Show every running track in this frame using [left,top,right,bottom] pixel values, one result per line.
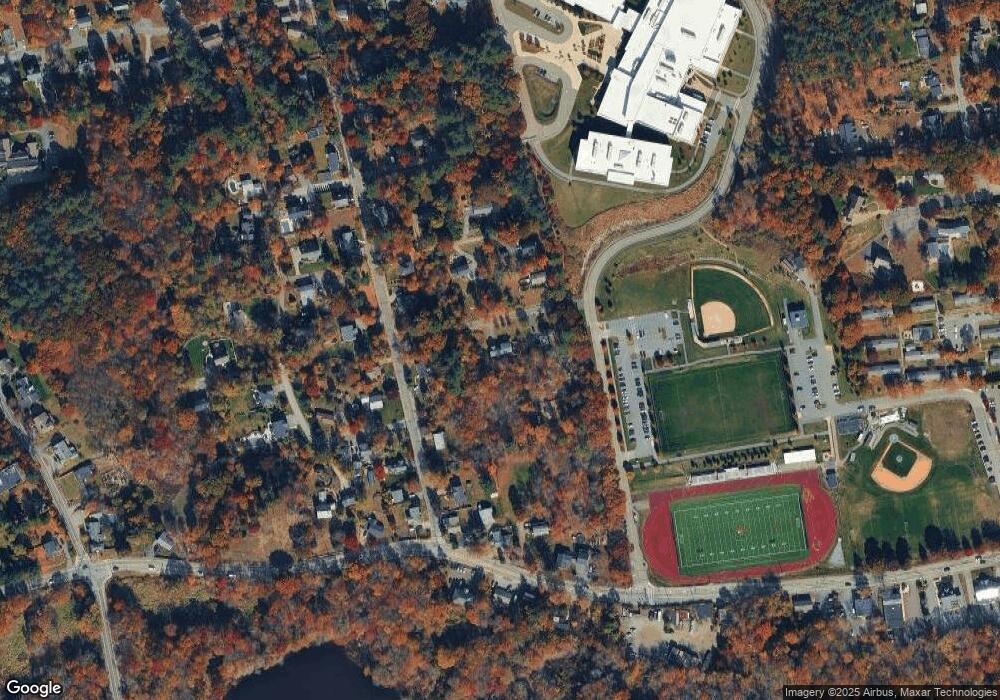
[642,468,837,583]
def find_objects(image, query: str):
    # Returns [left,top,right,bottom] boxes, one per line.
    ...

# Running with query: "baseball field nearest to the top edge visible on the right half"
[691,265,774,345]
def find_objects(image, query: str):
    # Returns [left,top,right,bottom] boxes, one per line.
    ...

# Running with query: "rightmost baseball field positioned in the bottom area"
[840,422,1000,552]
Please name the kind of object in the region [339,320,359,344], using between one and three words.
house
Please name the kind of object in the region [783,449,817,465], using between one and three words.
shed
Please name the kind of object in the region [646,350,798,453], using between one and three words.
sports field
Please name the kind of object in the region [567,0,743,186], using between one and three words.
building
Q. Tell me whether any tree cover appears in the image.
Yes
